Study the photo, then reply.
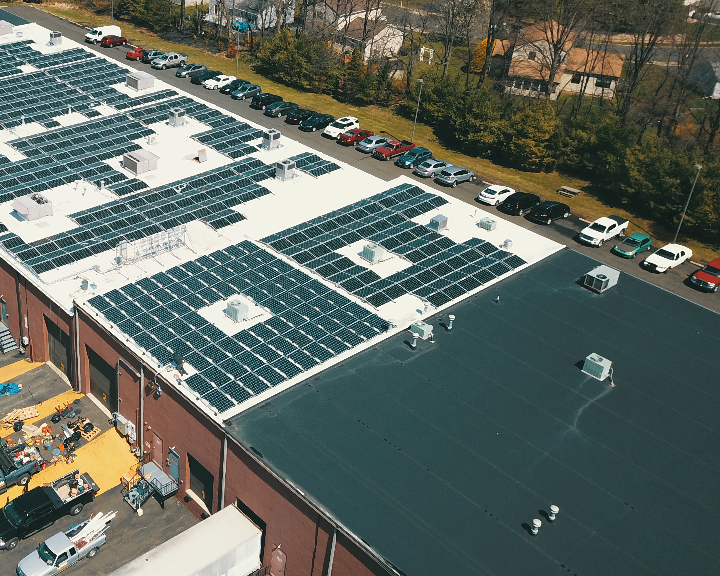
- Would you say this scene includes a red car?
Yes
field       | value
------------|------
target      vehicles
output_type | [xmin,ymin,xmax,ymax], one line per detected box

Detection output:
[503,187,545,213]
[247,86,286,109]
[96,30,132,47]
[299,109,338,131]
[150,48,192,70]
[609,224,656,258]
[284,104,319,123]
[393,142,434,168]
[317,111,359,137]
[185,65,223,82]
[576,208,633,247]
[337,124,378,145]
[199,71,236,88]
[435,160,480,187]
[171,60,208,77]
[126,42,155,58]
[0,441,47,490]
[687,251,720,293]
[413,153,453,177]
[9,518,108,576]
[528,196,573,224]
[263,96,303,116]
[224,80,263,100]
[0,470,100,550]
[370,135,416,160]
[355,132,389,152]
[84,19,124,41]
[642,240,691,273]
[477,179,522,204]
[139,46,167,63]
